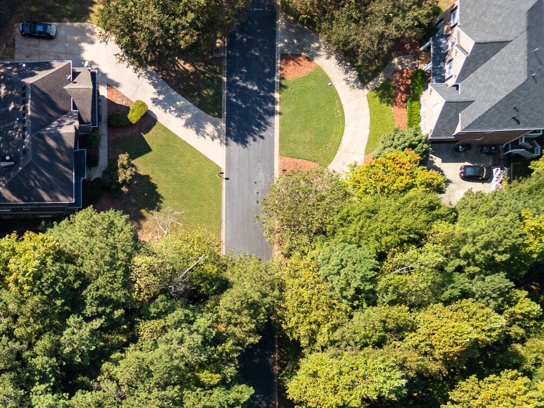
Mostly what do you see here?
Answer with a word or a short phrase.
trees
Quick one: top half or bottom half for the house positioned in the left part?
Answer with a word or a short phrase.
top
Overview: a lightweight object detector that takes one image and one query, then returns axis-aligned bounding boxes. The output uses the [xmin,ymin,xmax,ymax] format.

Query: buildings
[0,60,97,215]
[415,0,544,146]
